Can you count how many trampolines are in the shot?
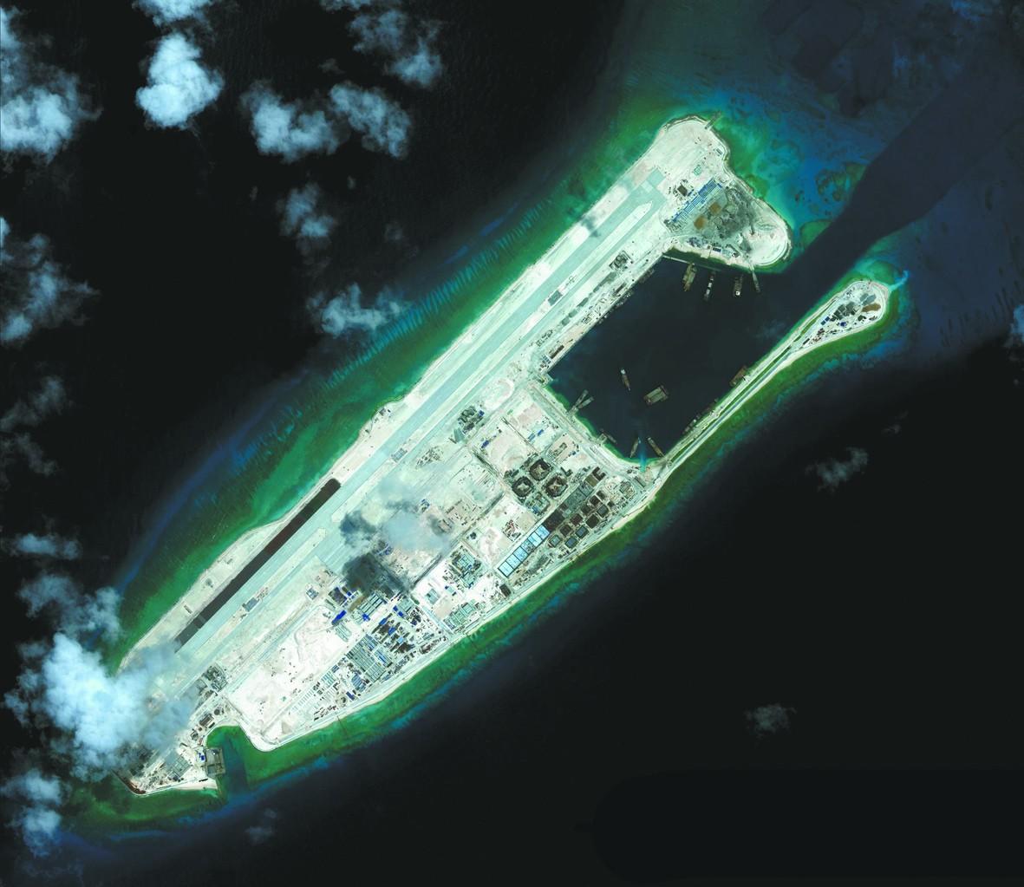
0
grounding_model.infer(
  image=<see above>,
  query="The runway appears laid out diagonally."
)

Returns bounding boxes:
[120,185,651,722]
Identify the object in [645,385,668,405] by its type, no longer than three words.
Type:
ship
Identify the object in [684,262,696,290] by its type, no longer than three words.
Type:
ship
